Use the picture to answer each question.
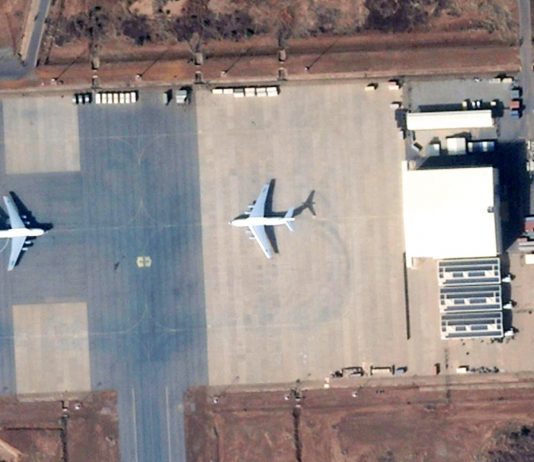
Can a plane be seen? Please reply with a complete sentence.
Yes, a plane appears in the view.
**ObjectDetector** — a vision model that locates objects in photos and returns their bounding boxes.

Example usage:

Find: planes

[0,198,44,271]
[229,184,296,258]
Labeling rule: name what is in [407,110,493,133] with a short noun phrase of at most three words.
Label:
shed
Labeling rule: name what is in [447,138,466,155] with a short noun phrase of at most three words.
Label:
shed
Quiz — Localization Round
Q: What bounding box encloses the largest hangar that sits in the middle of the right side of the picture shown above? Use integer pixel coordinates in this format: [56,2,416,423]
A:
[407,166,501,260]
